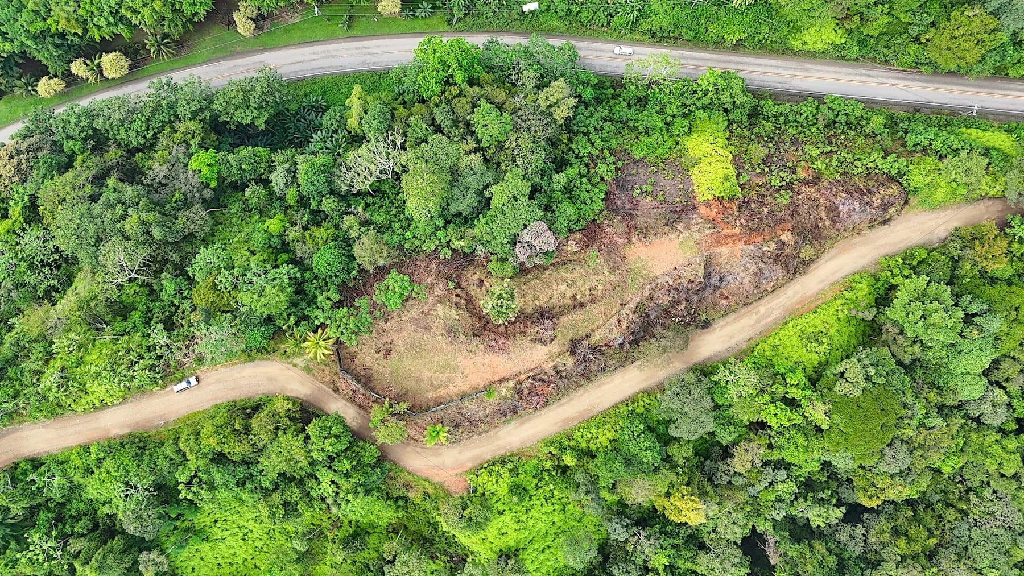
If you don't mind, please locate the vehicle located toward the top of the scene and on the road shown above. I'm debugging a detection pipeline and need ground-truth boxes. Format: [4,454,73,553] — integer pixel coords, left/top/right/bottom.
[613,45,635,57]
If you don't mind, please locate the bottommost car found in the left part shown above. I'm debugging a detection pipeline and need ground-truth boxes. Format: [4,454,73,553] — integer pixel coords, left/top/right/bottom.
[174,375,201,393]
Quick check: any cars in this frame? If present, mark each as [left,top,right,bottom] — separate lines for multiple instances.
[613,45,635,57]
[174,375,201,393]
